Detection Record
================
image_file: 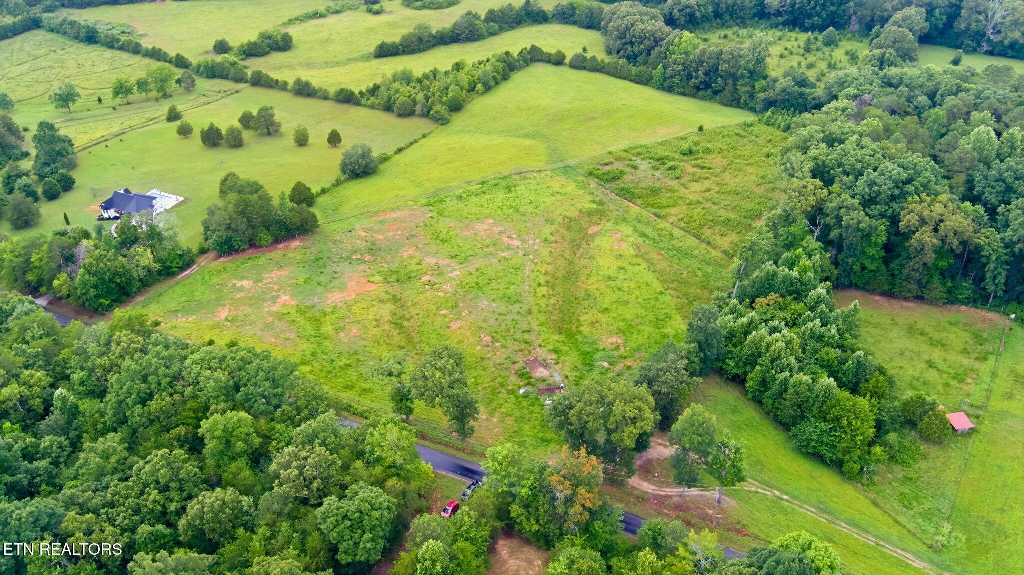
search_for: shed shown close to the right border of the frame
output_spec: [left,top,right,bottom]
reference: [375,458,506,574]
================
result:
[944,412,976,436]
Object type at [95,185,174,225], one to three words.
house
